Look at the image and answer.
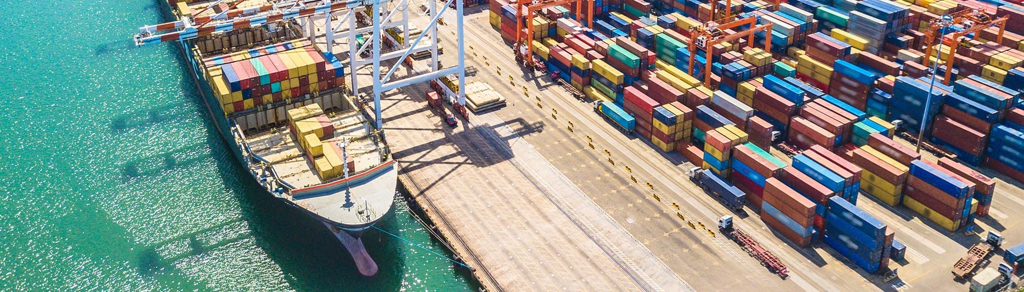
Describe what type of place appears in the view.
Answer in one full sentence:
The area seen from above is a port.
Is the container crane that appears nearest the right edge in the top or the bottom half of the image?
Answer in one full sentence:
The container crane that appears nearest the right edge sits in the top half of the picture.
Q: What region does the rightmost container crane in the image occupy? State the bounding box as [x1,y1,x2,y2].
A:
[924,3,1014,92]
